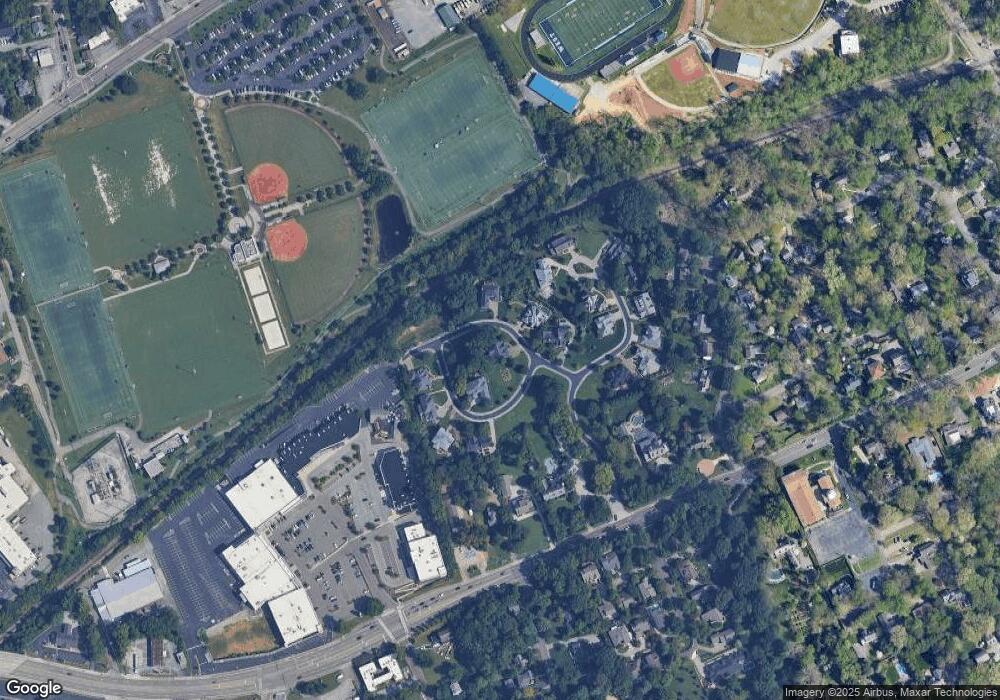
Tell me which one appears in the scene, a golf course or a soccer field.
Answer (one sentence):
There is a soccer field in the scene.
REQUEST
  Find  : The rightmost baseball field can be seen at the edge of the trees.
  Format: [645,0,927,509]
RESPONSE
[701,0,826,51]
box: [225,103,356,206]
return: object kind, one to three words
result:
baseball field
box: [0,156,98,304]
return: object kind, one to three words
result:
soccer field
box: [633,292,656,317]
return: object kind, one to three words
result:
house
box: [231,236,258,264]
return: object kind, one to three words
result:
building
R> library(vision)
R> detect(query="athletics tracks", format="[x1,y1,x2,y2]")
[517,0,685,86]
